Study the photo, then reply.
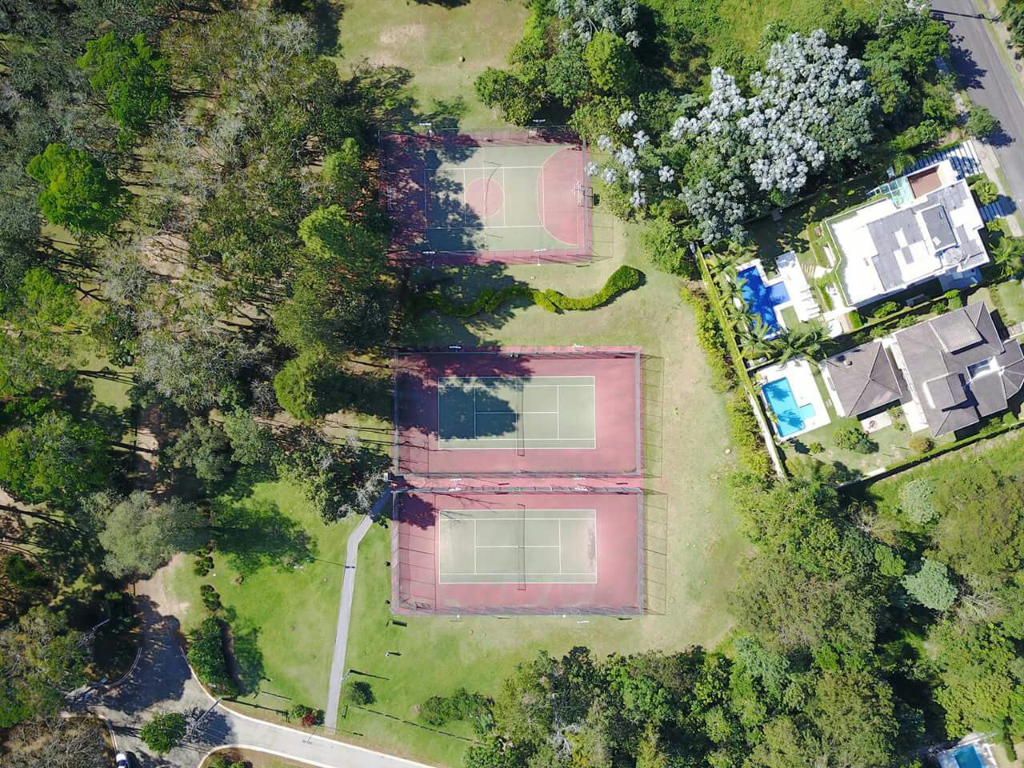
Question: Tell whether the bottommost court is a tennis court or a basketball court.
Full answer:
It turns out the bottommost court is a tennis court.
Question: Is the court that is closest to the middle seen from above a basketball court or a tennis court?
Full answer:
I'd identify the court that is closest to the middle as a tennis court.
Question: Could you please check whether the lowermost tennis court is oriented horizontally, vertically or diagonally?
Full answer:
The lowermost tennis court is laid out horizontally.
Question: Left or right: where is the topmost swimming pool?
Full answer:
The topmost swimming pool sits on the right side.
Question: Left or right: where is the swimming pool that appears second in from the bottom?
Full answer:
The swimming pool that appears second in from the bottom appears in the right half of the scene.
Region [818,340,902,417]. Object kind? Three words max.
building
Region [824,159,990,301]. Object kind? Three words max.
house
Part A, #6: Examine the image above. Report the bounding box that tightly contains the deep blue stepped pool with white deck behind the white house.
[736,251,820,340]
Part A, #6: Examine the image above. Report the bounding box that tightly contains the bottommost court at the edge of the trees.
[392,490,644,615]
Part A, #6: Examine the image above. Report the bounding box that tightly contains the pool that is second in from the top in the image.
[758,357,831,442]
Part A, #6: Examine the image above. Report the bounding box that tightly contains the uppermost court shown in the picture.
[380,132,592,266]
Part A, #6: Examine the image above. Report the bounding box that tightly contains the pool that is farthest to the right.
[938,747,989,768]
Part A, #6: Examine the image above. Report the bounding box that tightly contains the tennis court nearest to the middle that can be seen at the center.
[391,346,643,478]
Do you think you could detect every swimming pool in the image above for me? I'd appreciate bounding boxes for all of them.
[758,357,831,442]
[938,747,989,768]
[736,251,820,340]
